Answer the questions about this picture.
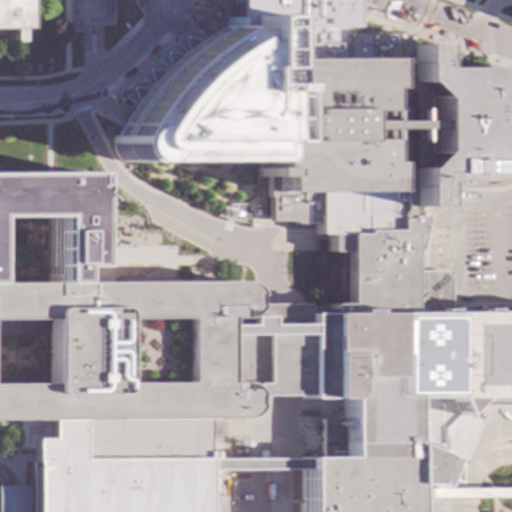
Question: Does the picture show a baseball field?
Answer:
No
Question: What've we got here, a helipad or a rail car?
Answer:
helipad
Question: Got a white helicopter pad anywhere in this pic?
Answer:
Yes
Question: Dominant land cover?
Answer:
buildings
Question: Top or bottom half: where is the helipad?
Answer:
bottom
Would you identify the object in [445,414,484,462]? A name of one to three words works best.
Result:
building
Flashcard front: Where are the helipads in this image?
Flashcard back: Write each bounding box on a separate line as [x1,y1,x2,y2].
[414,317,471,394]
